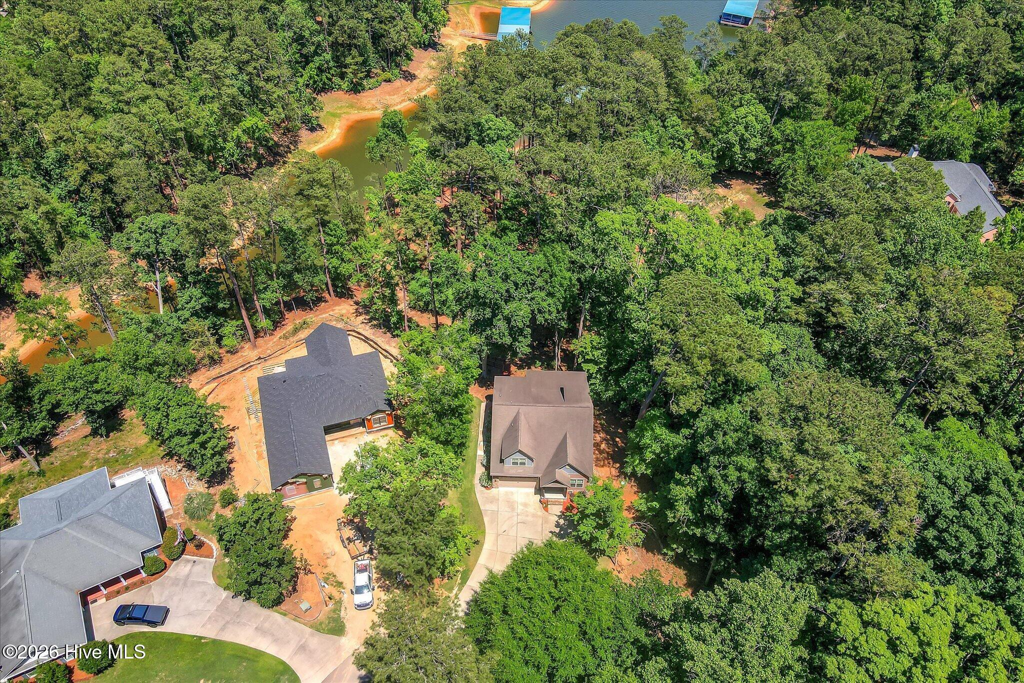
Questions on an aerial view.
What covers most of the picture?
trees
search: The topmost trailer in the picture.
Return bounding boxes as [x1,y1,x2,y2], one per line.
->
[336,516,368,560]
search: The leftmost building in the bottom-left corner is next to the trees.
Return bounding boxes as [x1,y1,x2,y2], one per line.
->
[0,457,177,683]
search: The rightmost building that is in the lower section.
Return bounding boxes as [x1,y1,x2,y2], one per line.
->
[489,357,595,507]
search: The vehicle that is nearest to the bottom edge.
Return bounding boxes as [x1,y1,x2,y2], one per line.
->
[114,601,172,630]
